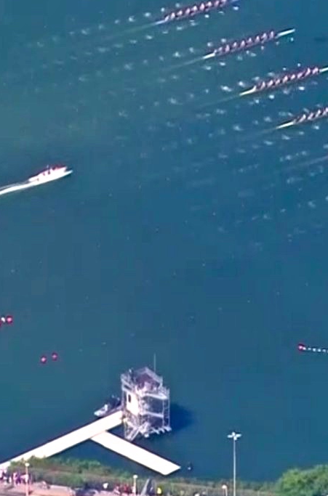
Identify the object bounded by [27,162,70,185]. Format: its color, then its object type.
white boat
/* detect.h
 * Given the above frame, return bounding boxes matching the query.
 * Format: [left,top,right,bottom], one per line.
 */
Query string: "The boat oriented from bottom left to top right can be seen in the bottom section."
[95,392,123,413]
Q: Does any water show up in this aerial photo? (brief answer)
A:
Yes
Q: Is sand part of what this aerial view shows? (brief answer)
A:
No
